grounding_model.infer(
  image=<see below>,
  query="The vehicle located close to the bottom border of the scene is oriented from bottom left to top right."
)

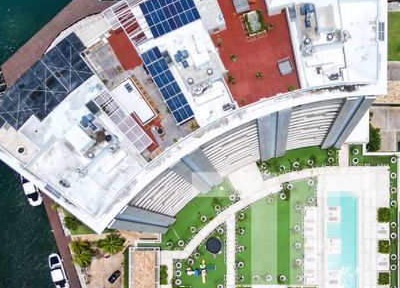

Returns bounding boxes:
[105,268,122,284]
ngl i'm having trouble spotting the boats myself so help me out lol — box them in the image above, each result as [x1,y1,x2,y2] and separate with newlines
[24,176,44,209]
[49,253,66,288]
